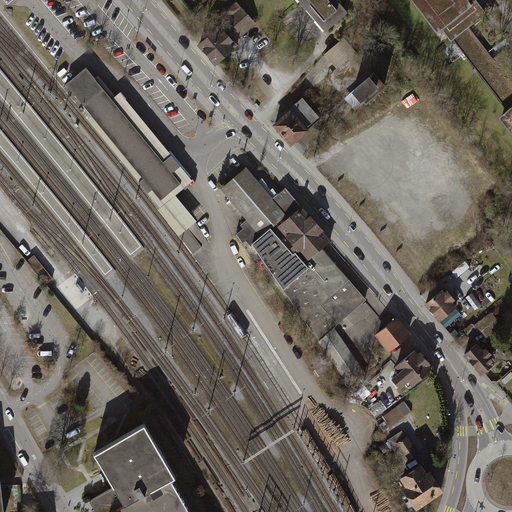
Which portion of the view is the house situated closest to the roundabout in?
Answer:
bottom right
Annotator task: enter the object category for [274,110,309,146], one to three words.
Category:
house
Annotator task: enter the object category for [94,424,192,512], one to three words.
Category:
building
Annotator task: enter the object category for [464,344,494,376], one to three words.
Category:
house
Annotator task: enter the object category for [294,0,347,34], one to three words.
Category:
building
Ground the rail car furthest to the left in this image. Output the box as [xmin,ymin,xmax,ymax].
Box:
[228,307,248,336]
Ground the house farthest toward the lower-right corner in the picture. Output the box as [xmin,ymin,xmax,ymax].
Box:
[400,464,444,511]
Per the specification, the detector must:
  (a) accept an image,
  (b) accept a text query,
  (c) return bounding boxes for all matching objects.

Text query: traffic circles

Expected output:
[466,440,512,512]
